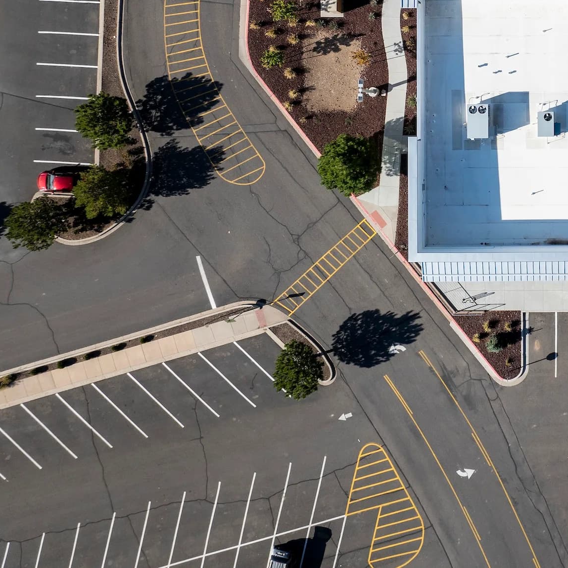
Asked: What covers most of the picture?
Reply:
paved ground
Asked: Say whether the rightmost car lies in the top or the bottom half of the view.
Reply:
bottom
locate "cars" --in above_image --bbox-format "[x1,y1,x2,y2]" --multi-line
[265,544,296,568]
[41,168,93,195]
